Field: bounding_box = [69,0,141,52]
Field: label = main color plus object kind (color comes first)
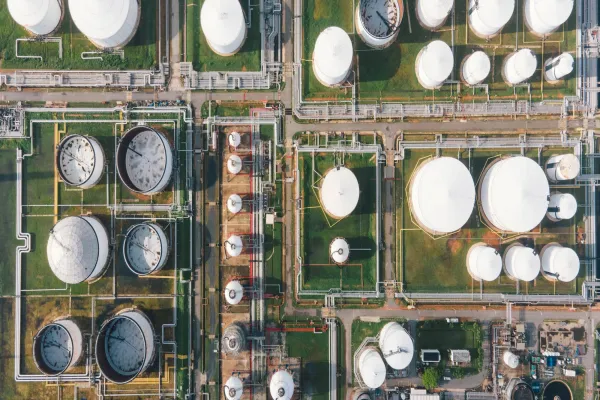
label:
white storage tank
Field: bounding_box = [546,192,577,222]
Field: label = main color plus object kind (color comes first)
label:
white storage tank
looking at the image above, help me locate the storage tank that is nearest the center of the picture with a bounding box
[318,165,359,219]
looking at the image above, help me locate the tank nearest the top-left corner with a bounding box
[7,0,64,40]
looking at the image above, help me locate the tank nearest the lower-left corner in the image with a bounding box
[31,315,84,378]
